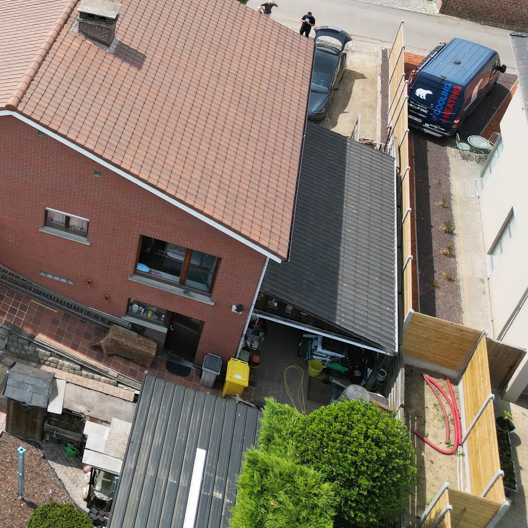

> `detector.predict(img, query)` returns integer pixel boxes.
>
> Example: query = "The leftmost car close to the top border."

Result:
[308,22,366,118]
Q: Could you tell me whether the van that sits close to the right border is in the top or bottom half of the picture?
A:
top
